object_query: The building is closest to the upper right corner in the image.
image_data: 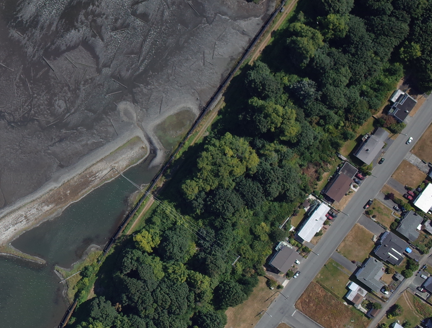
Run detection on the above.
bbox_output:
[386,94,417,121]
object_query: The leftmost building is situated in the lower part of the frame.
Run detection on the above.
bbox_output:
[269,242,299,273]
